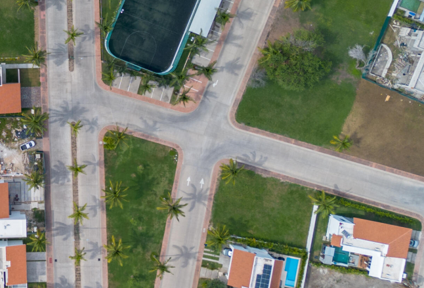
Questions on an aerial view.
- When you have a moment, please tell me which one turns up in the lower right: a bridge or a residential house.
residential house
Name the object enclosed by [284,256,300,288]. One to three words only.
swimming pool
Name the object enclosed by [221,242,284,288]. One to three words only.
house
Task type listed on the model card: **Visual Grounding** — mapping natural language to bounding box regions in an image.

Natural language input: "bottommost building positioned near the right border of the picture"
[315,212,413,282]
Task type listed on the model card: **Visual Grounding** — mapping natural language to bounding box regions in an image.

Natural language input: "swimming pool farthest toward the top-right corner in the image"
[399,0,423,14]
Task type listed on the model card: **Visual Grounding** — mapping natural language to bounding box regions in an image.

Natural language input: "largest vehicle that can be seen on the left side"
[18,138,38,152]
